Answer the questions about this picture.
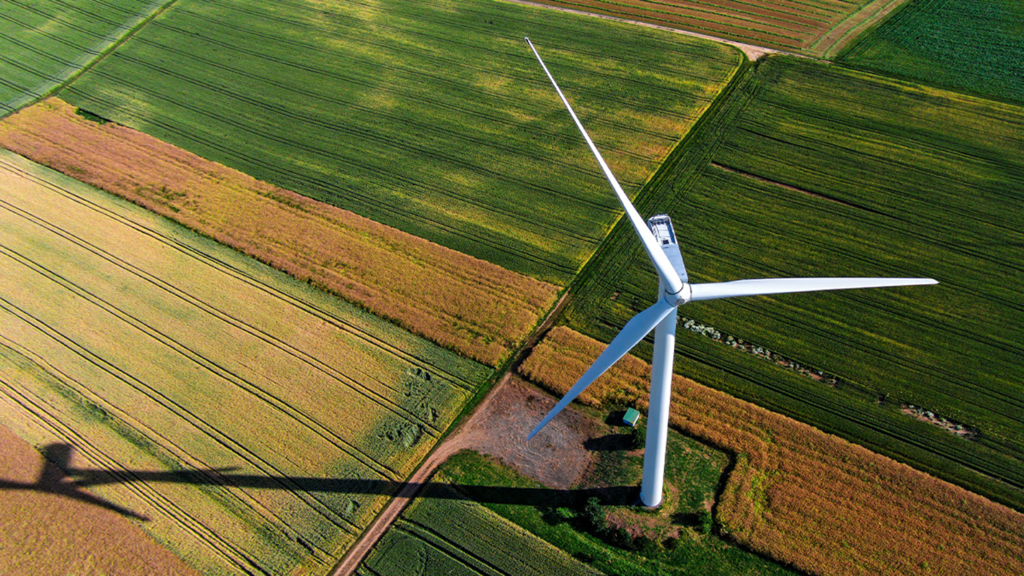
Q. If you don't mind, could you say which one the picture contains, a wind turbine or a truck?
wind turbine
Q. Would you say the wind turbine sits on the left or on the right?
right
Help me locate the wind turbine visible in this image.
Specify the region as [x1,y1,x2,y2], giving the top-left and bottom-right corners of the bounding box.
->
[527,40,939,510]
